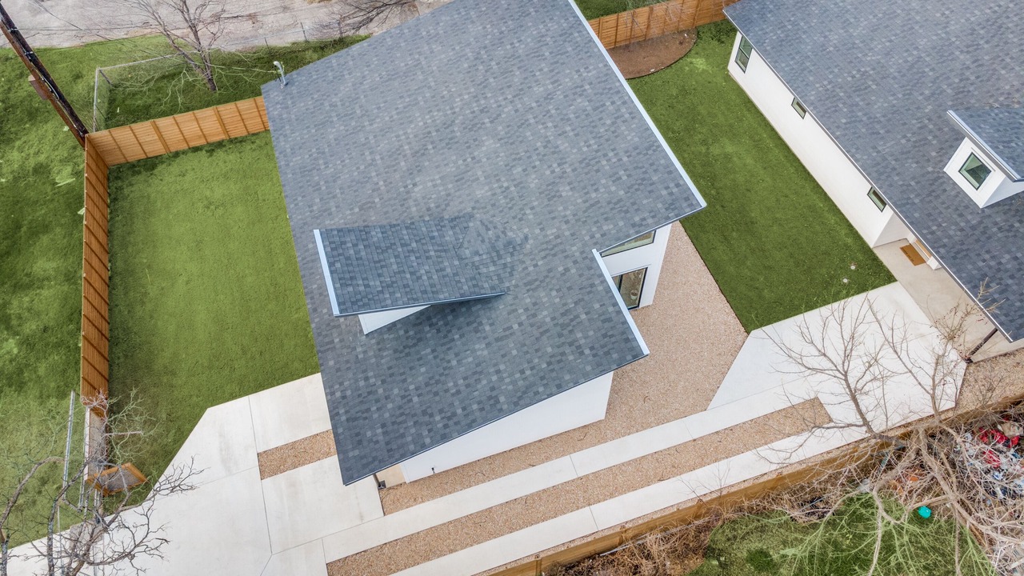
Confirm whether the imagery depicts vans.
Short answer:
No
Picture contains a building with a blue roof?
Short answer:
No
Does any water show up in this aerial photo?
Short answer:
No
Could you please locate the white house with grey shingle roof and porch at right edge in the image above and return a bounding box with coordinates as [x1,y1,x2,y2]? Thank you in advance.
[723,0,1024,363]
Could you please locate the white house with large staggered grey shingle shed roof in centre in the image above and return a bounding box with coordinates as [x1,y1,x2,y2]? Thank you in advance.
[262,0,706,493]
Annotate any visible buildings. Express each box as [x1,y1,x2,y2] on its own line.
[723,0,1024,363]
[262,0,706,493]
